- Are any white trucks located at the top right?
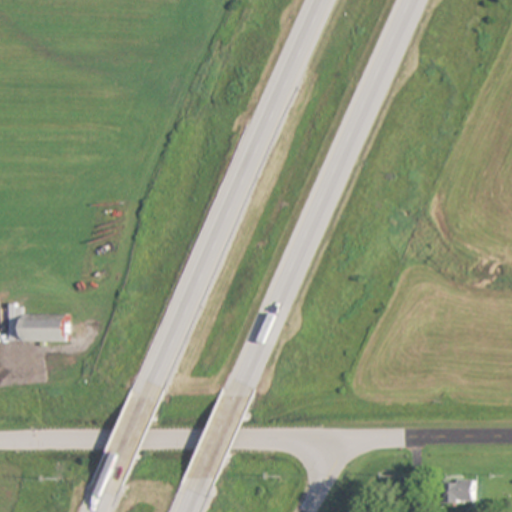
No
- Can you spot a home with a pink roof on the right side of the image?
No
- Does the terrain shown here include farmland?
Yes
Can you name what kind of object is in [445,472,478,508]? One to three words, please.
house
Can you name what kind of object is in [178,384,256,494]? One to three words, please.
overpass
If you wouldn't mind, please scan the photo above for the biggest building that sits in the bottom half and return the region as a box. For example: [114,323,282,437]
[16,314,72,342]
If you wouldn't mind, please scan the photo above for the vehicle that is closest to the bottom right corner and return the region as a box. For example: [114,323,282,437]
[257,301,284,344]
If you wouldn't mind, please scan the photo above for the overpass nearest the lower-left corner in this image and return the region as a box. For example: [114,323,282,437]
[88,382,166,491]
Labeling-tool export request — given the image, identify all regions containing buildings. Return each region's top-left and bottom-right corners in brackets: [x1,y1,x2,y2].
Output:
[16,314,72,342]
[445,472,478,508]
